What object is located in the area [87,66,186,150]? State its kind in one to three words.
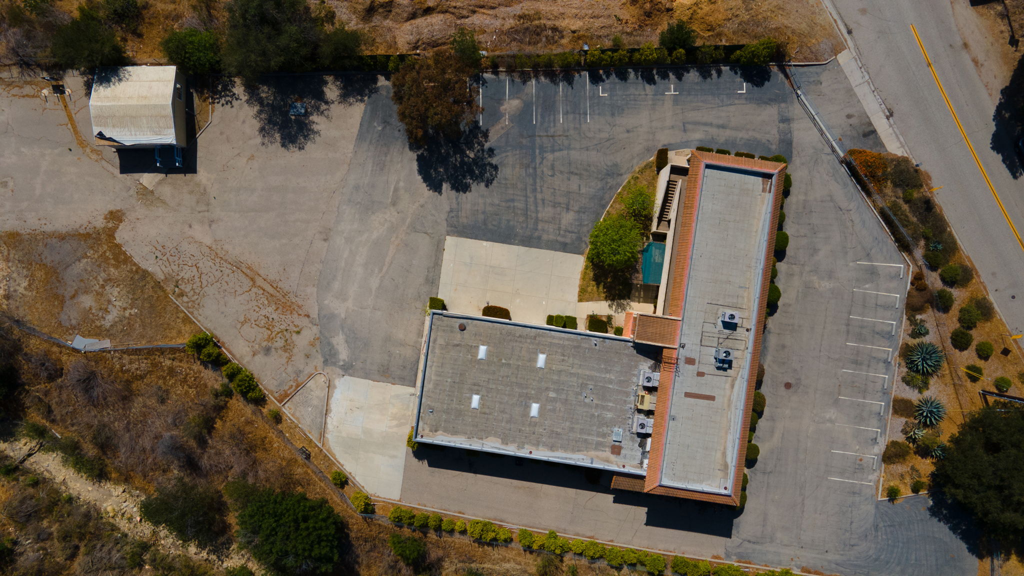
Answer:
shed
